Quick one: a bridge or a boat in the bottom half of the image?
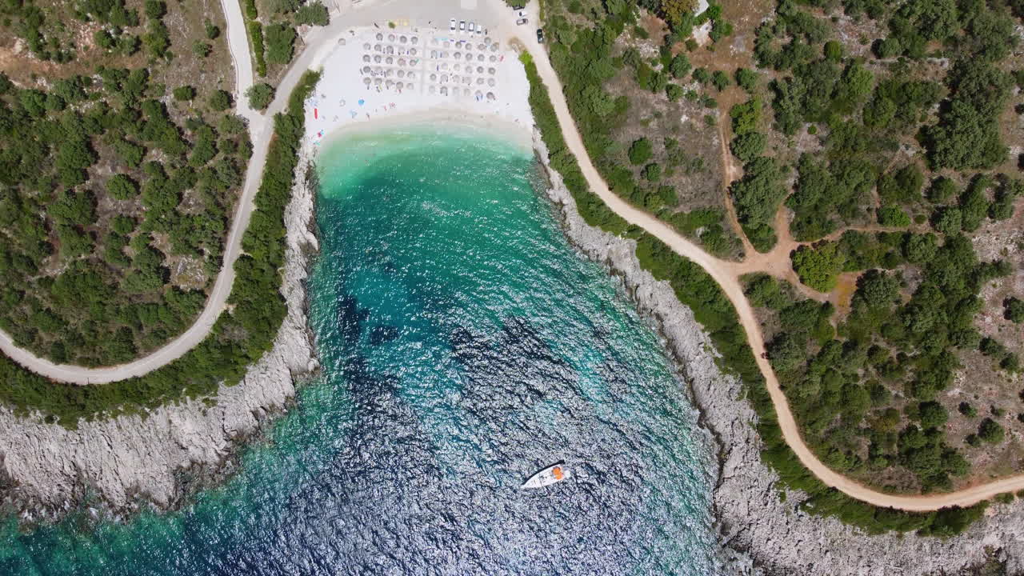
boat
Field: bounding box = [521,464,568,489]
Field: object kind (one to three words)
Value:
boat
